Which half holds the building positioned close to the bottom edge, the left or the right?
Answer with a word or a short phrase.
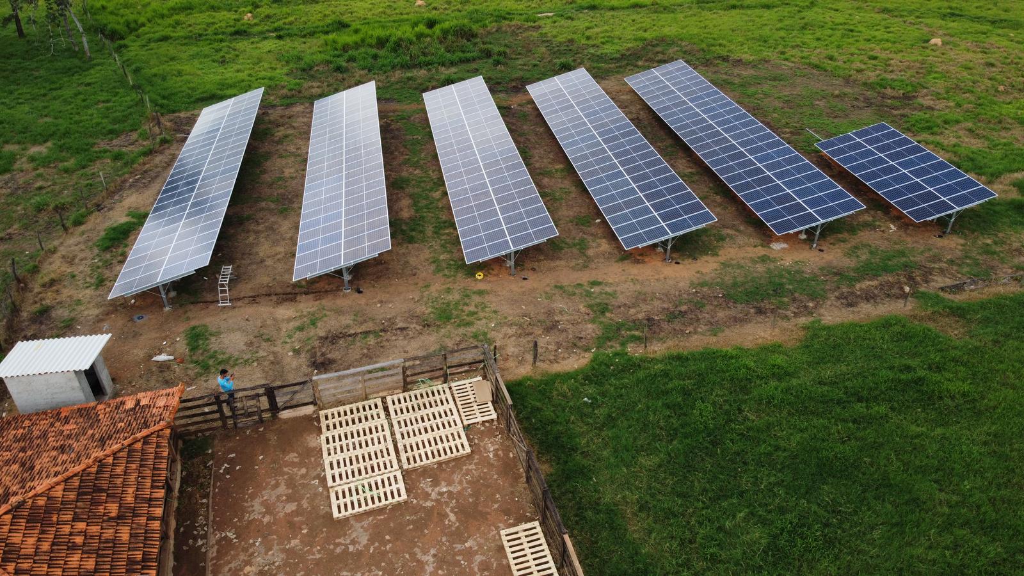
left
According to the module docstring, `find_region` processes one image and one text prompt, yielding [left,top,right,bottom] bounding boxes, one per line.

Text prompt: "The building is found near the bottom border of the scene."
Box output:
[0,385,187,576]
